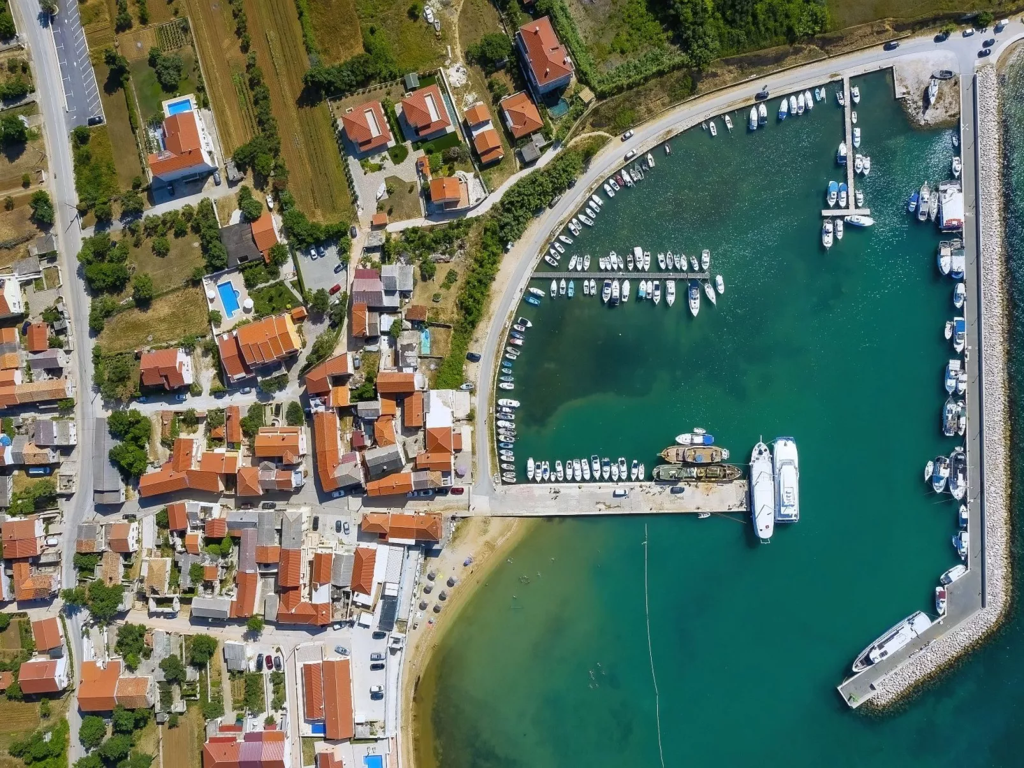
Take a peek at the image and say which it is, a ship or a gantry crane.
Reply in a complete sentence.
Of the two, only a ship appears.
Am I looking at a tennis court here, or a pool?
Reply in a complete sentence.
The image shows a pool.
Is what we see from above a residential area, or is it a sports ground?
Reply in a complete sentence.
The picture captures a residential area.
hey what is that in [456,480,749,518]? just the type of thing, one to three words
pier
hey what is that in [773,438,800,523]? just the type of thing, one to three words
ship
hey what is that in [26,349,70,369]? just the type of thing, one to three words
house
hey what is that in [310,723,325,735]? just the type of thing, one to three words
swimming pool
